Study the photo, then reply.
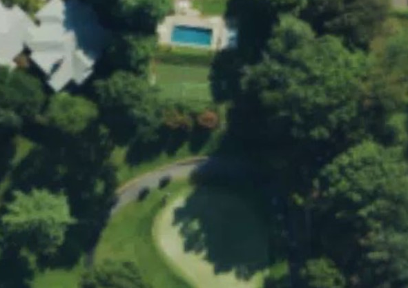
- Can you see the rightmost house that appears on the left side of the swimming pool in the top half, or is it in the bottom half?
top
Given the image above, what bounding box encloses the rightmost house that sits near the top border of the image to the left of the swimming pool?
[30,0,106,92]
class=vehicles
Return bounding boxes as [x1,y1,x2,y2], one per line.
[139,186,150,196]
[160,177,172,186]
